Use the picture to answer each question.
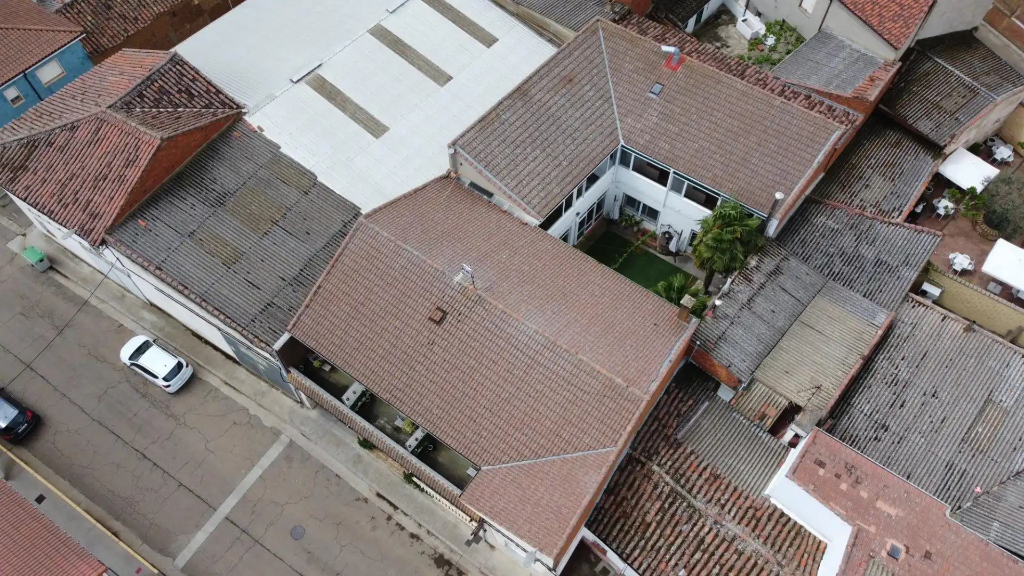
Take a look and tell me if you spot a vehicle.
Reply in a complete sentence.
Yes, you can see a vehicle in this photo.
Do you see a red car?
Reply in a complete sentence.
No, there is no red car in the image.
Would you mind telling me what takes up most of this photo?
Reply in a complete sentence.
The scene is dominated by buildings.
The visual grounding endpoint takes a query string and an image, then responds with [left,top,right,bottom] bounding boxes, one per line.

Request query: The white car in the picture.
[120,335,192,392]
